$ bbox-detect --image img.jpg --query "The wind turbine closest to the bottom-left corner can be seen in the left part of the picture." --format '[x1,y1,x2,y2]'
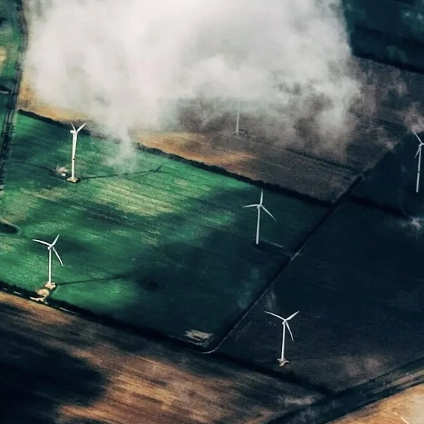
[34,233,61,283]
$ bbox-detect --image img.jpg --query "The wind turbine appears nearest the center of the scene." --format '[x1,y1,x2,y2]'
[244,191,275,244]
